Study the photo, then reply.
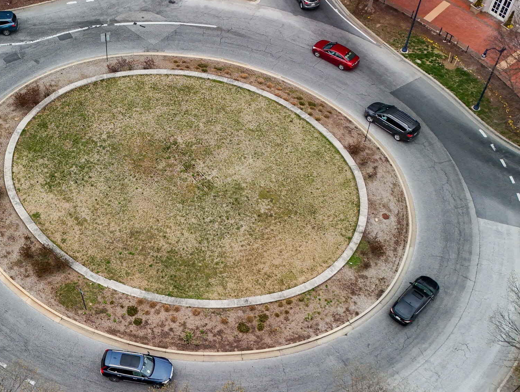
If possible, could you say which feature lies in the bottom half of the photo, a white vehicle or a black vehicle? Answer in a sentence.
You can see a black vehicle in the bottom half of the photo.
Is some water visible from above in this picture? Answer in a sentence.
No, there's no water in this view.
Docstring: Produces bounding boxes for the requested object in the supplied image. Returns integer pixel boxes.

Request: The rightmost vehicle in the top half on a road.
[363,102,423,144]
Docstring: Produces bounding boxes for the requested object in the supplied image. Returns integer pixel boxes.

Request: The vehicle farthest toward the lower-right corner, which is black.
[387,274,443,328]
